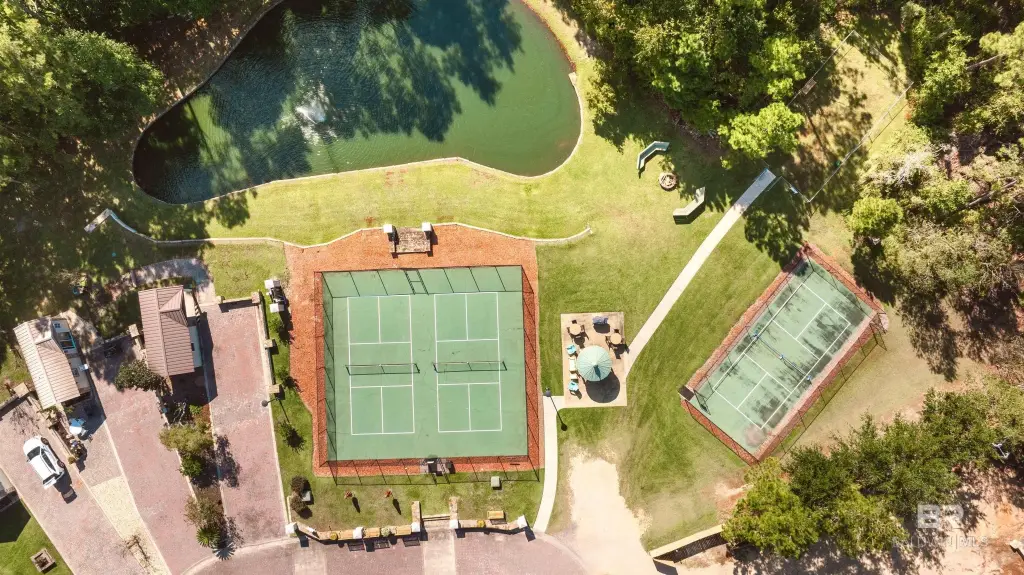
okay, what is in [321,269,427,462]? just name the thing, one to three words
sports court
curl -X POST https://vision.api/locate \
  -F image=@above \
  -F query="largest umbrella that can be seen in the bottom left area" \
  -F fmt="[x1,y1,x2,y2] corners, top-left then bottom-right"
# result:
[68,418,91,435]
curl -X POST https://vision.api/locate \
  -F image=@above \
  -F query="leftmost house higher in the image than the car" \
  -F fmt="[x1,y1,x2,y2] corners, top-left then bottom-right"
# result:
[12,314,95,412]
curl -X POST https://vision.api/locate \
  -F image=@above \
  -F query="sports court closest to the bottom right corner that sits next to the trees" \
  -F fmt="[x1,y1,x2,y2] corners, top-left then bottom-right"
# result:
[689,256,873,458]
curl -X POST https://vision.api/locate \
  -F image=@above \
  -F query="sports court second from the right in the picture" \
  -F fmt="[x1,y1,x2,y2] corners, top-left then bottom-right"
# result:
[421,266,527,459]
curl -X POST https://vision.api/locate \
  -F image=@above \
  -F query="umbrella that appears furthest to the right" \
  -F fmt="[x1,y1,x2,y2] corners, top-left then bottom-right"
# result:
[575,344,613,381]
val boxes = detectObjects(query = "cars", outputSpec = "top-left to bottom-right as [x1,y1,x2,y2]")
[25,438,64,493]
